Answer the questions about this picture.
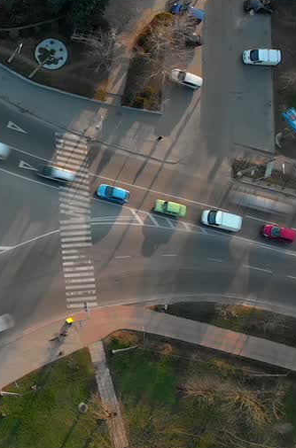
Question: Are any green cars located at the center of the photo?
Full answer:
Yes, a green car can be seen at the center of the photo.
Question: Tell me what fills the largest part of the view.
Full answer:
Most of the picture is covered by paved ground.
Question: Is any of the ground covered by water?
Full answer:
No, the picture contains no water.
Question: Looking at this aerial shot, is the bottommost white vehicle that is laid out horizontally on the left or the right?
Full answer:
The bottommost white vehicle that is laid out horizontally sits on the right side.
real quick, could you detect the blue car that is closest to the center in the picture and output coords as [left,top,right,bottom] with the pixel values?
[94,184,130,204]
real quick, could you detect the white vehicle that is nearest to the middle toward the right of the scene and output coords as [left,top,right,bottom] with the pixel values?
[199,209,244,232]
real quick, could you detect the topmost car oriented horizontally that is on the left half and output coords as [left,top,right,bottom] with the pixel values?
[39,164,77,184]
